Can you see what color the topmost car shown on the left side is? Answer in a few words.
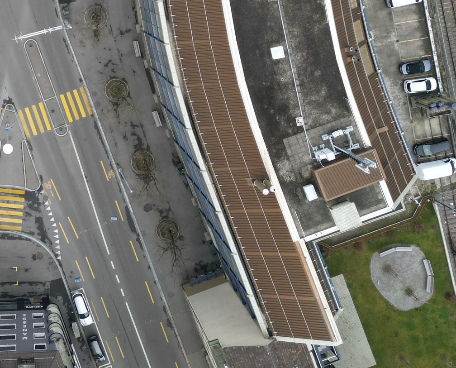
white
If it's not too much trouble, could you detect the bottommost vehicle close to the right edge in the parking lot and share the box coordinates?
[413,156,456,183]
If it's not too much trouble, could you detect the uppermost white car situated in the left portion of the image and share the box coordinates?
[71,288,94,327]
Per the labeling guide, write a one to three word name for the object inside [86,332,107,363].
car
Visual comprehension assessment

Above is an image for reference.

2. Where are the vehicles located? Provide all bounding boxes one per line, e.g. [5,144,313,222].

[384,0,423,7]
[401,76,437,94]
[411,137,451,157]
[71,288,94,327]
[86,332,107,363]
[413,156,456,183]
[397,58,431,76]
